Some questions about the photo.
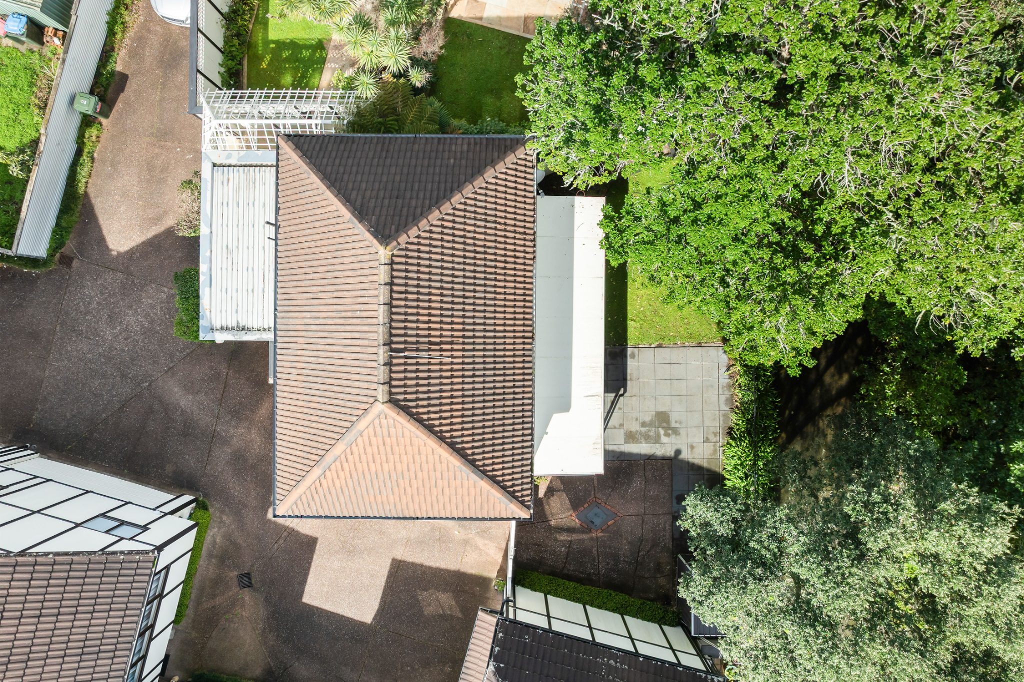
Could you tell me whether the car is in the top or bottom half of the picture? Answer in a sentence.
You can find the car in the top half.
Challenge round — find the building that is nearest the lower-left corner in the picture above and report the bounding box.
[0,440,200,682]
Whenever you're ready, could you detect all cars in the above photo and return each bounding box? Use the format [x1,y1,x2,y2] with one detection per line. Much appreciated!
[148,0,193,31]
